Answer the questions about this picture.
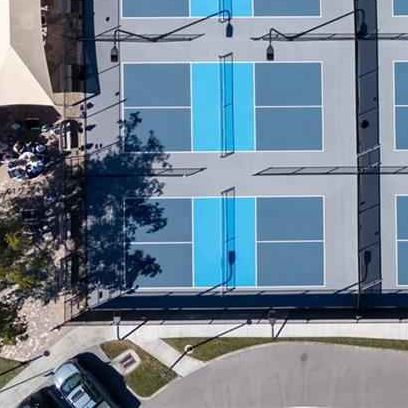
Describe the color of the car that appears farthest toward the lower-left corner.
black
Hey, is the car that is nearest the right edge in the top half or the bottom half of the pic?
bottom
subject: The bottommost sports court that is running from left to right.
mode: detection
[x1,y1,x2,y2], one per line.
[125,196,325,288]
